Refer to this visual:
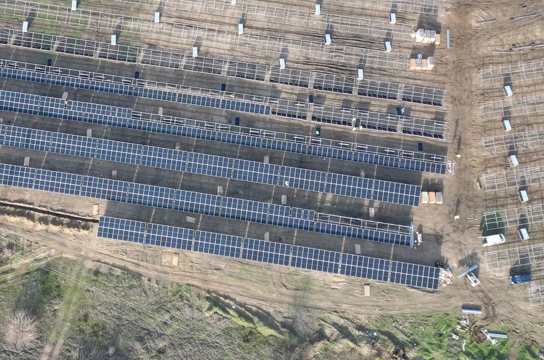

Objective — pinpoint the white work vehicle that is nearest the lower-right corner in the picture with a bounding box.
[463,269,481,288]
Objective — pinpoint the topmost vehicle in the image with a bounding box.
[478,232,507,245]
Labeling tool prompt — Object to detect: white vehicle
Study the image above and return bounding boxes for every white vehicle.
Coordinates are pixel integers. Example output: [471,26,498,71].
[478,232,507,245]
[463,269,481,288]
